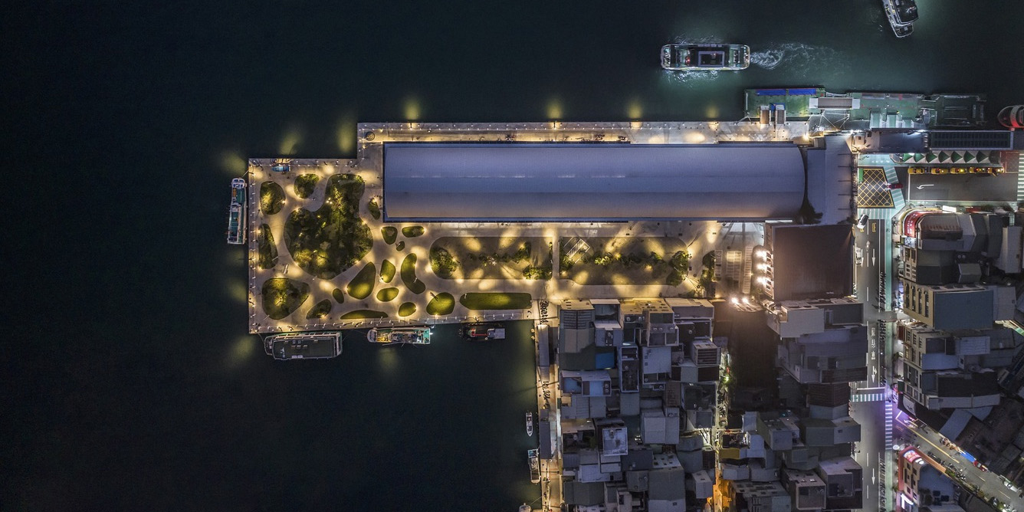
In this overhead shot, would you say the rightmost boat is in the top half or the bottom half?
top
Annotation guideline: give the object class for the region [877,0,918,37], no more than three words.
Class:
ship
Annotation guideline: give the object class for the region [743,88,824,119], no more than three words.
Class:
pier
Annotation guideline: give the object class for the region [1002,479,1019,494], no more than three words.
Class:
vehicle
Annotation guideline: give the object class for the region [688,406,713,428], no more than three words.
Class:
house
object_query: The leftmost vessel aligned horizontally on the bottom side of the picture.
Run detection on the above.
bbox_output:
[264,331,343,360]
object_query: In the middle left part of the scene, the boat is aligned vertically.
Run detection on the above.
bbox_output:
[226,178,248,245]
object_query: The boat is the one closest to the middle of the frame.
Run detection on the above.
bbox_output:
[458,324,505,342]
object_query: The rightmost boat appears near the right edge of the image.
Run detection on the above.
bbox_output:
[994,104,1024,131]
